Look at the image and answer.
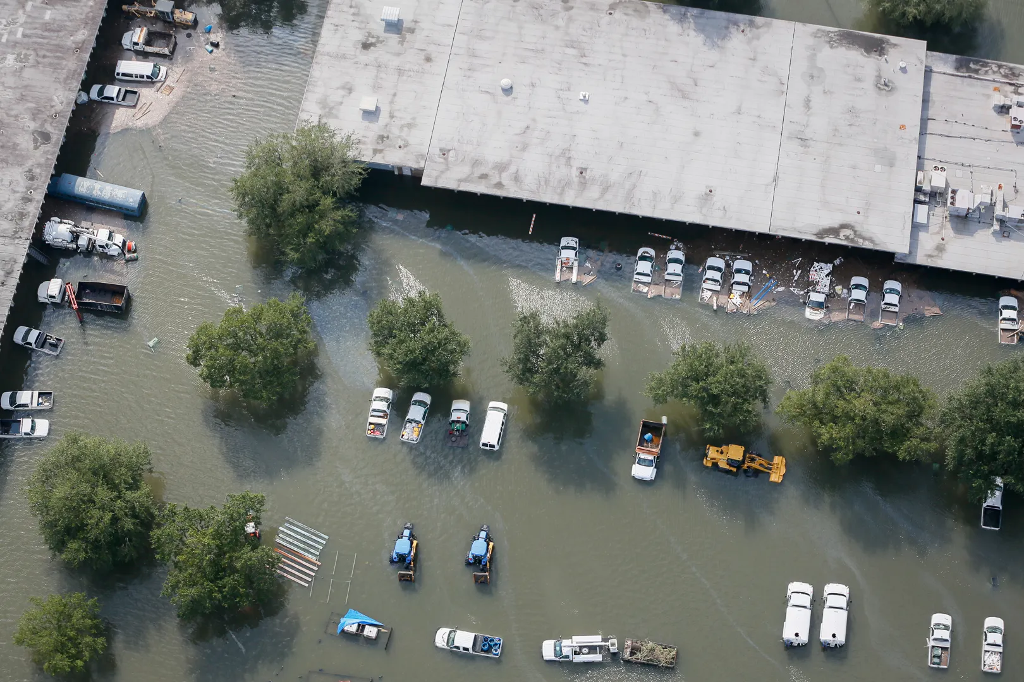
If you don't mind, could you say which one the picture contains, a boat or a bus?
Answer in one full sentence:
Looking from above, you can make out a bus.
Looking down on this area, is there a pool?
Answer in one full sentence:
No, there appears to be no pool in this shot.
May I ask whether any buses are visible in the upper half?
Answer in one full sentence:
Yes, a bus appears in the upper half.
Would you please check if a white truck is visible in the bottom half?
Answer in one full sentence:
Yes, there is a white truck in the bottom half.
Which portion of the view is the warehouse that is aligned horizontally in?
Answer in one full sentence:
The warehouse that is aligned horizontally sits in the top section of the image.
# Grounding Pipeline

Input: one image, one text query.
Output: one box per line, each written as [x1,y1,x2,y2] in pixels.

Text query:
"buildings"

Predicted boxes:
[0,0,111,358]
[298,0,928,256]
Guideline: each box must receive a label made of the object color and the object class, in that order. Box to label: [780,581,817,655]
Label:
white truck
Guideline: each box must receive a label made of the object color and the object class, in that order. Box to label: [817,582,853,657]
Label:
white truck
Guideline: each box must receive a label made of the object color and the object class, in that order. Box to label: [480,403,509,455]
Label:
white van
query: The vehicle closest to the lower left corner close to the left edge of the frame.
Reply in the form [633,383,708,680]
[0,416,52,439]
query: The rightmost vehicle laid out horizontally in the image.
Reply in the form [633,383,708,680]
[701,444,785,488]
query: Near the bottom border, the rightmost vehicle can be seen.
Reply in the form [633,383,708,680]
[980,616,1009,677]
